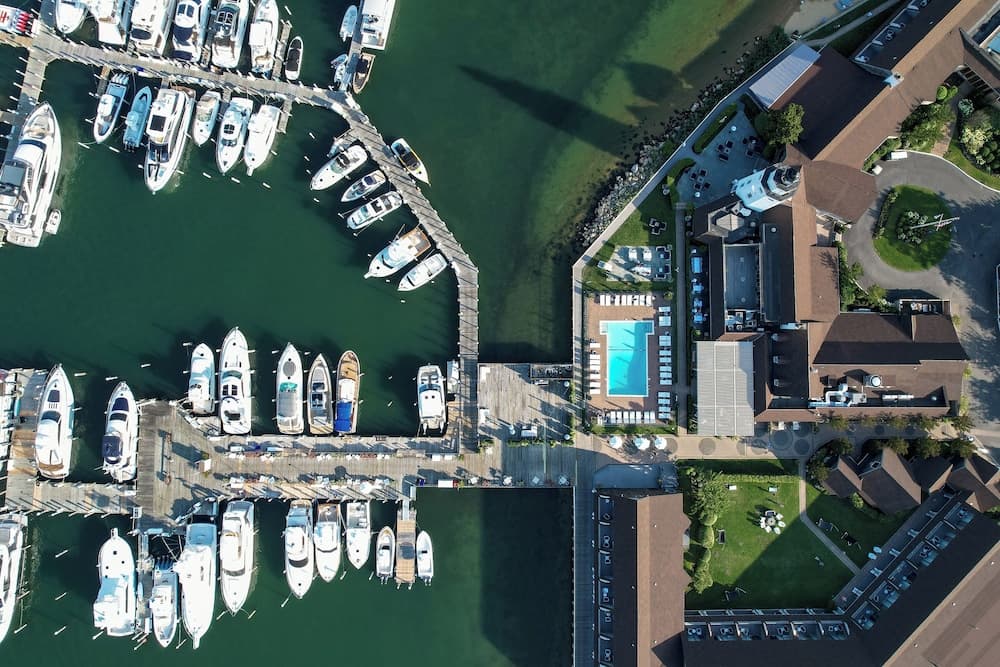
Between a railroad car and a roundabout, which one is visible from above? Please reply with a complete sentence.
The image shows a roundabout.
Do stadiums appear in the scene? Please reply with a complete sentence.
No, I find no stadium anywhere in the image.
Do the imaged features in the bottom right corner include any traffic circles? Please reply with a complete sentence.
No, looking in the bottom right corner, there is no traffic circle.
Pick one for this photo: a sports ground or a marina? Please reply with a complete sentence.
What you see here is a marina.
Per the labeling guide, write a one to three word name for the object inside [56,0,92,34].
boat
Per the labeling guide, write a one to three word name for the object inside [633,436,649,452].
umbrella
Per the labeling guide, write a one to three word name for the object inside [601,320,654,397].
swimming pool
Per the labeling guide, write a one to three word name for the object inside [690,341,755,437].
building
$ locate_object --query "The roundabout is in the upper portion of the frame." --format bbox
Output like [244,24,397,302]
[873,186,954,271]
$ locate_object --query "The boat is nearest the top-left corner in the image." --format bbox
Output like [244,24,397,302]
[0,6,27,34]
